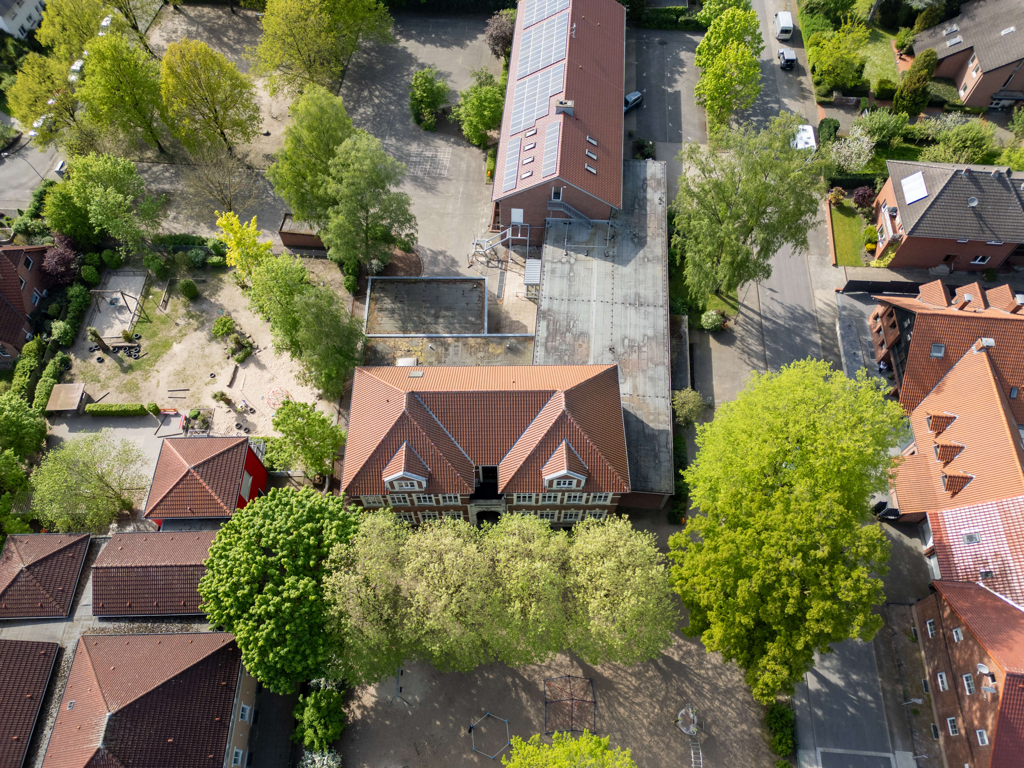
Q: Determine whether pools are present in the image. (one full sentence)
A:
No, I can see no pool in this picture.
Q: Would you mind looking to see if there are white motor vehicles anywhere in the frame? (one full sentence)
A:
Yes, there's a white motor vehicle here.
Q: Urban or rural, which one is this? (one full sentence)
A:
The area shown here is urban.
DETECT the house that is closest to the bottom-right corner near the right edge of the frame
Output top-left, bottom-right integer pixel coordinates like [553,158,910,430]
[910,579,1024,768]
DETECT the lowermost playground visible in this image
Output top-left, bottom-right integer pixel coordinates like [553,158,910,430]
[53,254,352,503]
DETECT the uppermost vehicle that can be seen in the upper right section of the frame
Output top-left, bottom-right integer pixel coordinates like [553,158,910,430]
[774,2,799,38]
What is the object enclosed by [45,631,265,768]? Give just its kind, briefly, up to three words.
house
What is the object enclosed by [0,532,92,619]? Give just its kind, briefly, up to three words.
house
